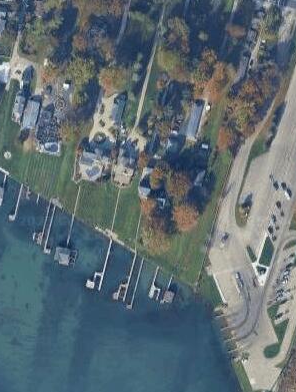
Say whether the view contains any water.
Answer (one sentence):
Yes, there's water in this view.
